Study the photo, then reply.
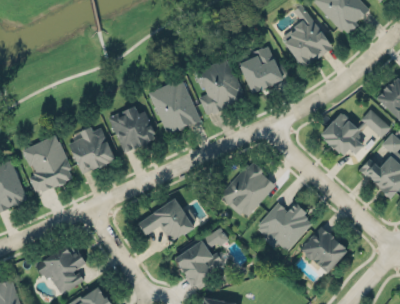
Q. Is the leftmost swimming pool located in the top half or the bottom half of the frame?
bottom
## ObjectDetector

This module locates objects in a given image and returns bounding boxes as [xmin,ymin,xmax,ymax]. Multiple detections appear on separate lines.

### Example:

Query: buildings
[174,240,214,292]
[38,248,90,298]
[302,228,348,274]
[0,162,26,212]
[225,166,278,220]
[258,204,316,255]
[206,228,228,250]
[196,62,242,117]
[283,6,332,66]
[136,198,195,242]
[360,132,400,200]
[24,138,73,188]
[378,80,400,122]
[110,105,154,151]
[320,108,393,160]
[315,0,370,36]
[150,79,202,134]
[241,46,284,94]
[0,280,22,304]
[72,129,113,173]
[72,288,110,304]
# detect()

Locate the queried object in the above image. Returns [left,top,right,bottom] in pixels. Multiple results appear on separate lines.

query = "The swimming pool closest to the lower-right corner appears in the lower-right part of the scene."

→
[296,257,326,284]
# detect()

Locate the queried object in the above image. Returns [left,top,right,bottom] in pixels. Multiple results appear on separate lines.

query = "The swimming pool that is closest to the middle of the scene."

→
[190,200,208,229]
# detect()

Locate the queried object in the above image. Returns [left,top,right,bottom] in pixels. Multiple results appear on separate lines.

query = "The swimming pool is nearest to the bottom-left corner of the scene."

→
[35,276,56,302]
